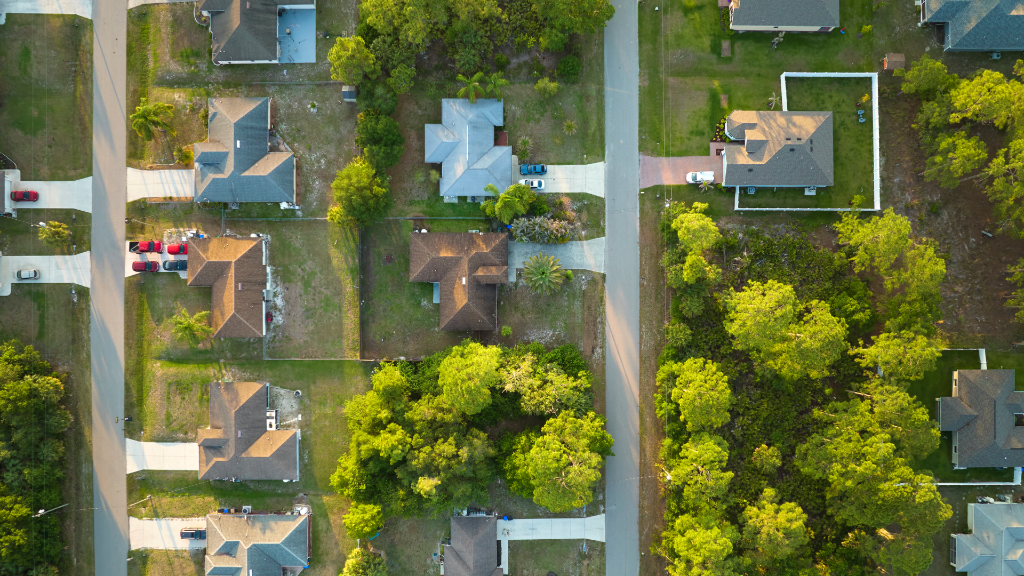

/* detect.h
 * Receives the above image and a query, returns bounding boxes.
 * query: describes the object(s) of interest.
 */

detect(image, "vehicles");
[520,178,545,191]
[520,163,547,176]
[11,190,41,203]
[132,259,160,272]
[129,240,164,253]
[685,171,715,184]
[167,242,187,255]
[164,259,187,271]
[180,527,206,541]
[15,268,41,281]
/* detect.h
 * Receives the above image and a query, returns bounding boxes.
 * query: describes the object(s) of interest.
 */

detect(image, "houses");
[948,503,1024,576]
[0,170,14,215]
[205,513,311,576]
[721,111,833,187]
[443,515,503,576]
[718,0,840,31]
[197,381,302,480]
[919,0,1024,53]
[198,0,317,66]
[933,369,1024,468]
[187,237,268,338]
[192,97,297,203]
[409,232,509,331]
[424,98,512,197]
